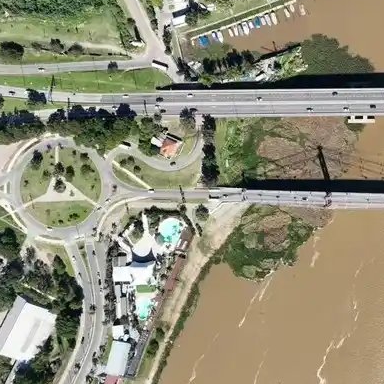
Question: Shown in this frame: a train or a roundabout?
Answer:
roundabout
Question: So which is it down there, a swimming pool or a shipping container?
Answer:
swimming pool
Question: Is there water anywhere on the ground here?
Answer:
Yes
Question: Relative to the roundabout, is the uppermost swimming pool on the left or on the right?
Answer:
right of it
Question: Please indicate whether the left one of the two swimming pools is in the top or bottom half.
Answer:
bottom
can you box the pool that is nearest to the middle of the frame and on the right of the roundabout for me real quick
[157,217,186,246]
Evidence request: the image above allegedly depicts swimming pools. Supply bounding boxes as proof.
[135,293,158,320]
[157,217,186,246]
